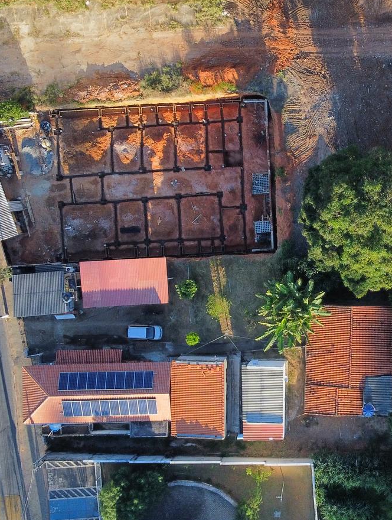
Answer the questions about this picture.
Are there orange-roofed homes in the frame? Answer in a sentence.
Yes, the picture does show an orange-roofed home.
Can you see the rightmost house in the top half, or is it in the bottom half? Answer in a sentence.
Seen from above, the rightmost house lies in the bottom half of the view.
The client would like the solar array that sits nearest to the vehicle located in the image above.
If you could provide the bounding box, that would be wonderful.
[59,371,156,391]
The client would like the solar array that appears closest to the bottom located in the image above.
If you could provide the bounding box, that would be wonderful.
[63,399,161,416]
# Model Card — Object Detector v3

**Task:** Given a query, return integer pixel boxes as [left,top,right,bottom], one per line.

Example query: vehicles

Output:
[128,324,164,343]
